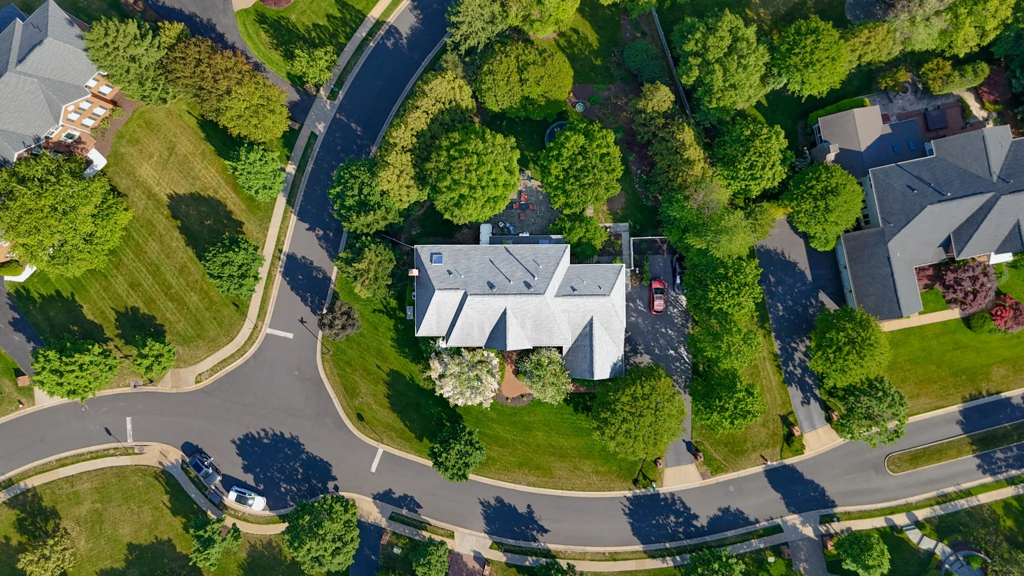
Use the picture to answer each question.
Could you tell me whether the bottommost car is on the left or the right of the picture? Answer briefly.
left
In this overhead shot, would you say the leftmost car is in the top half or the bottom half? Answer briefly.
bottom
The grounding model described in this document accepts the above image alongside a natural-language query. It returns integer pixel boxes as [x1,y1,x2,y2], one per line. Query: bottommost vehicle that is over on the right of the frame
[649,279,668,316]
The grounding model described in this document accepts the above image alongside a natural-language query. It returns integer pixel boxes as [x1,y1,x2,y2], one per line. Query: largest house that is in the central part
[408,244,626,380]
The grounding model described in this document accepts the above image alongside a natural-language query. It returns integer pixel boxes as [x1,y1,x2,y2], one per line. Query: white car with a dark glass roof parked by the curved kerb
[226,487,266,511]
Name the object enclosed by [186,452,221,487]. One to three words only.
car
